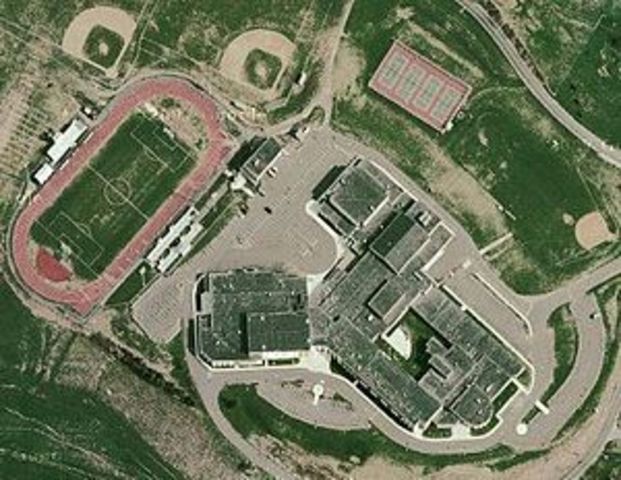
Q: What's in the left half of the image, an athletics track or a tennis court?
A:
athletics track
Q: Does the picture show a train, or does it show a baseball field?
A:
baseball field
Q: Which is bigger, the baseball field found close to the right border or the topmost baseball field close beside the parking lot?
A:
the topmost baseball field close beside the parking lot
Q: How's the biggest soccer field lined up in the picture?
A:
at an angle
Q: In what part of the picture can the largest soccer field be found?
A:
left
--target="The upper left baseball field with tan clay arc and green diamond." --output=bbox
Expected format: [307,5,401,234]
[62,8,138,81]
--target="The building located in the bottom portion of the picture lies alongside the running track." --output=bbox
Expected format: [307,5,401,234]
[193,157,525,434]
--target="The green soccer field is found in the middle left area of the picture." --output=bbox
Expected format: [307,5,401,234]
[37,103,201,279]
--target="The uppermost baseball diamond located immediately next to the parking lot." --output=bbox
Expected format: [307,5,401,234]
[221,30,297,103]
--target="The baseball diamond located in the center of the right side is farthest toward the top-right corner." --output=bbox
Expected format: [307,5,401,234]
[564,211,619,250]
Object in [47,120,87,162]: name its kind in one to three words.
building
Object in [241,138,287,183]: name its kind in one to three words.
building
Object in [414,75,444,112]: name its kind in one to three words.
tennis court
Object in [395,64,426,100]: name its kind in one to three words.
tennis court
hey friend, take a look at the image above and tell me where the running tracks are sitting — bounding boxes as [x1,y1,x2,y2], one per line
[12,78,233,319]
